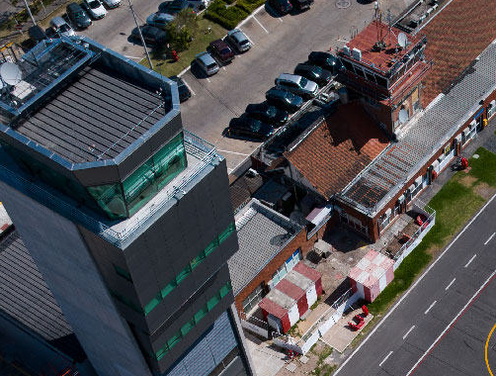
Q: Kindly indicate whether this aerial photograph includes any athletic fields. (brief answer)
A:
No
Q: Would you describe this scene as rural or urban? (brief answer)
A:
urban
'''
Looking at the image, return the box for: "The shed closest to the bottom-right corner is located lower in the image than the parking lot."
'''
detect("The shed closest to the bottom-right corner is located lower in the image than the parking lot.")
[347,248,396,303]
